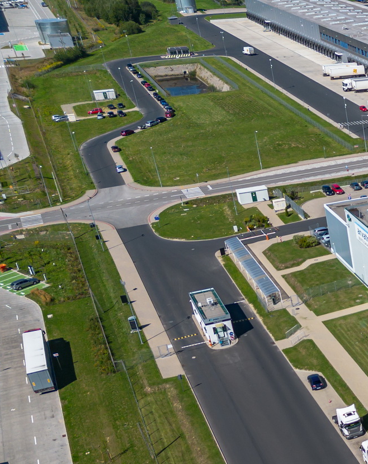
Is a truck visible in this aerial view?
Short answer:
Yes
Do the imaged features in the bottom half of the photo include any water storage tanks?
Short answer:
No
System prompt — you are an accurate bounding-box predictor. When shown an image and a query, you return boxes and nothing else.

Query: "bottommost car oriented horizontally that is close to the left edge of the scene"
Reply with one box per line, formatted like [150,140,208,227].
[7,277,41,292]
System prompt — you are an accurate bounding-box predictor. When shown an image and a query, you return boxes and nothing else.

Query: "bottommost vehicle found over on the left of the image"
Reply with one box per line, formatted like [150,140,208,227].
[21,325,57,398]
